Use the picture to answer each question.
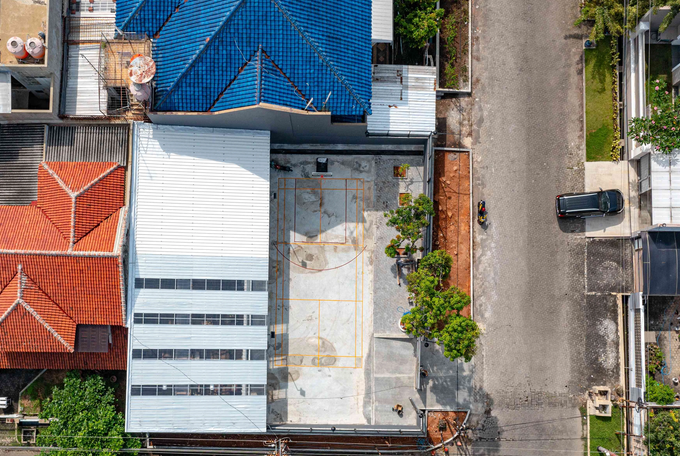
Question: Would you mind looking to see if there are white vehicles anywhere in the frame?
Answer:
No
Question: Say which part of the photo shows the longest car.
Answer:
right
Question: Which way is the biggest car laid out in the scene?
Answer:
from left to right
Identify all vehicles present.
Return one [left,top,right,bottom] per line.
[559,185,626,220]
[270,155,294,169]
[479,199,490,225]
